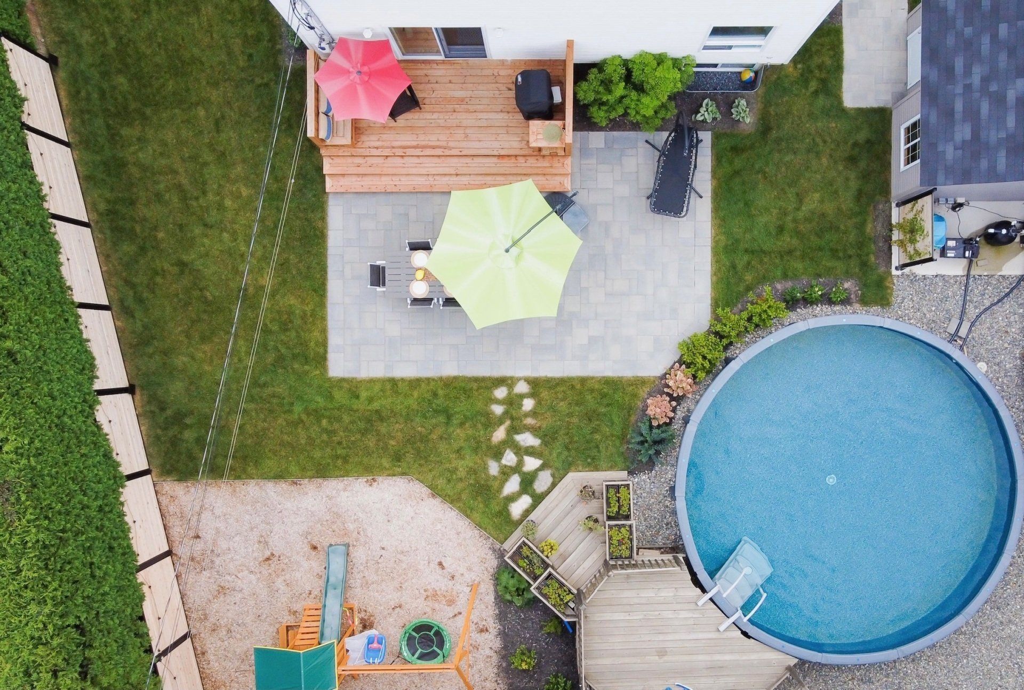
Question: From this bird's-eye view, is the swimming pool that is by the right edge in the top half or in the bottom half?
bottom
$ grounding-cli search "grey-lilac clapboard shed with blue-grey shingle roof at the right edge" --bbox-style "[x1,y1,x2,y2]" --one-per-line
[893,0,1024,201]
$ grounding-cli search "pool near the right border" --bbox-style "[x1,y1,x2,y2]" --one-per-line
[668,314,1024,665]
